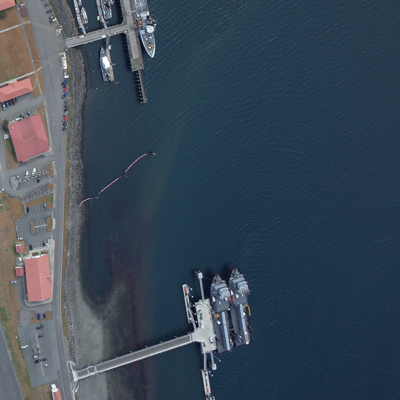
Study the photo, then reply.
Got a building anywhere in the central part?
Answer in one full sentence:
No, there's no building to be seen in the central part.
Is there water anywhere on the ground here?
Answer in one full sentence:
Yes, the picture does contain water.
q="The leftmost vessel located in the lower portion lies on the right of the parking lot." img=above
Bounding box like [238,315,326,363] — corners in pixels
[210,271,235,353]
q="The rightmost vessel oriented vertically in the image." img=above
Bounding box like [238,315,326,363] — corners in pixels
[228,266,255,346]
